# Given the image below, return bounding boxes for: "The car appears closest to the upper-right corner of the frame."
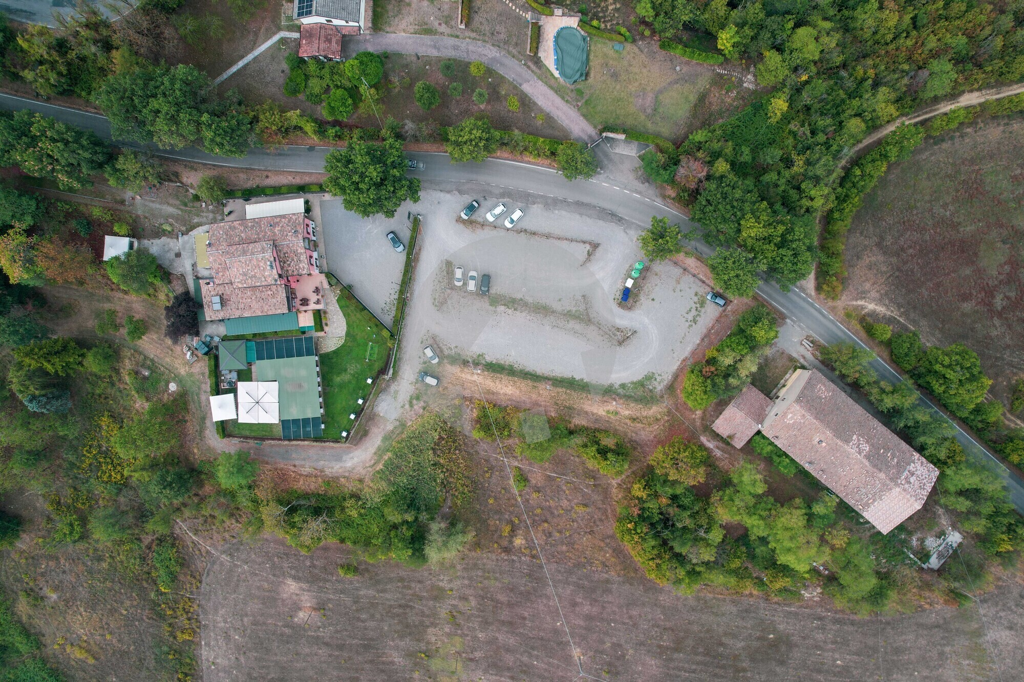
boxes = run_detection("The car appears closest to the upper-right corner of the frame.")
[706,292,727,308]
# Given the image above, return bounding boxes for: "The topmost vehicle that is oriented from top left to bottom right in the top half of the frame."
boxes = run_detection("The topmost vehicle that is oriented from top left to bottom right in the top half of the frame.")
[386,230,405,253]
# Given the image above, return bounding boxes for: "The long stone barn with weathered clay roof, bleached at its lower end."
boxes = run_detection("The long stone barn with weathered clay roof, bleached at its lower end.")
[756,368,940,535]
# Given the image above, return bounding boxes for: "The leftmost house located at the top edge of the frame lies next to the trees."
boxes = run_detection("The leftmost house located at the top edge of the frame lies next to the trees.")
[292,0,364,60]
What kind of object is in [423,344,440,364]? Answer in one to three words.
car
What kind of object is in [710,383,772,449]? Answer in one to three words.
shed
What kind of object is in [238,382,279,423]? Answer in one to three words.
umbrella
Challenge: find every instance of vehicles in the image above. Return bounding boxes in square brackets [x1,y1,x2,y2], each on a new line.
[505,207,524,228]
[453,266,464,286]
[461,199,480,220]
[480,273,491,295]
[418,373,441,387]
[386,230,405,253]
[423,344,440,364]
[706,292,727,308]
[487,202,507,222]
[467,270,478,292]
